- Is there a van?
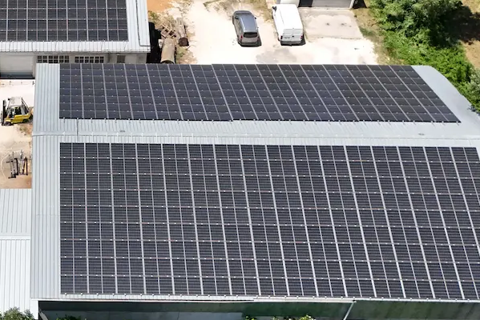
Yes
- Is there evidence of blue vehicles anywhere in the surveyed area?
No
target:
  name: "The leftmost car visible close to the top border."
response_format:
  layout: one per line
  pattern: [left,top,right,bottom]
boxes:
[236,9,261,42]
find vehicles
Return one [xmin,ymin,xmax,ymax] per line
[274,3,304,42]
[0,94,33,122]
[236,9,261,42]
